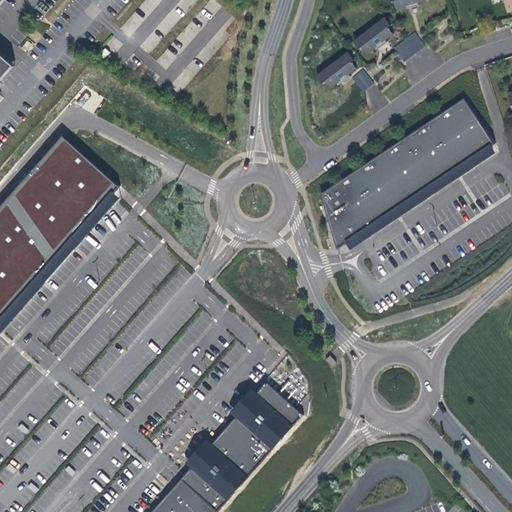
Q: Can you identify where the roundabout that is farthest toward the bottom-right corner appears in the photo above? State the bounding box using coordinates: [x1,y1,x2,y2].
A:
[340,332,442,459]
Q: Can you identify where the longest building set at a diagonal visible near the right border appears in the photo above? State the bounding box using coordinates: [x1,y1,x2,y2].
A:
[322,98,500,254]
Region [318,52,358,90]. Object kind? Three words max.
house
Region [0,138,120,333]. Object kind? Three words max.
building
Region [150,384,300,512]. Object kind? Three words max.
building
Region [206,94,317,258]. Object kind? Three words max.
roundabout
